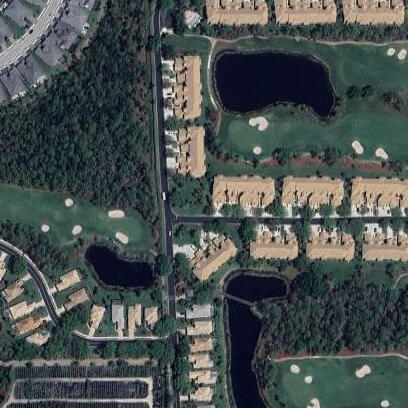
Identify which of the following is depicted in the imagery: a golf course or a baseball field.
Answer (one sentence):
Looking from above, you can make out a golf course.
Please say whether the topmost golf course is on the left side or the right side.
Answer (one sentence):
The topmost golf course is on the right side of the image.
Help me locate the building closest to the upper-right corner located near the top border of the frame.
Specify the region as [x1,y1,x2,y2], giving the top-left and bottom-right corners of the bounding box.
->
[344,0,405,27]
